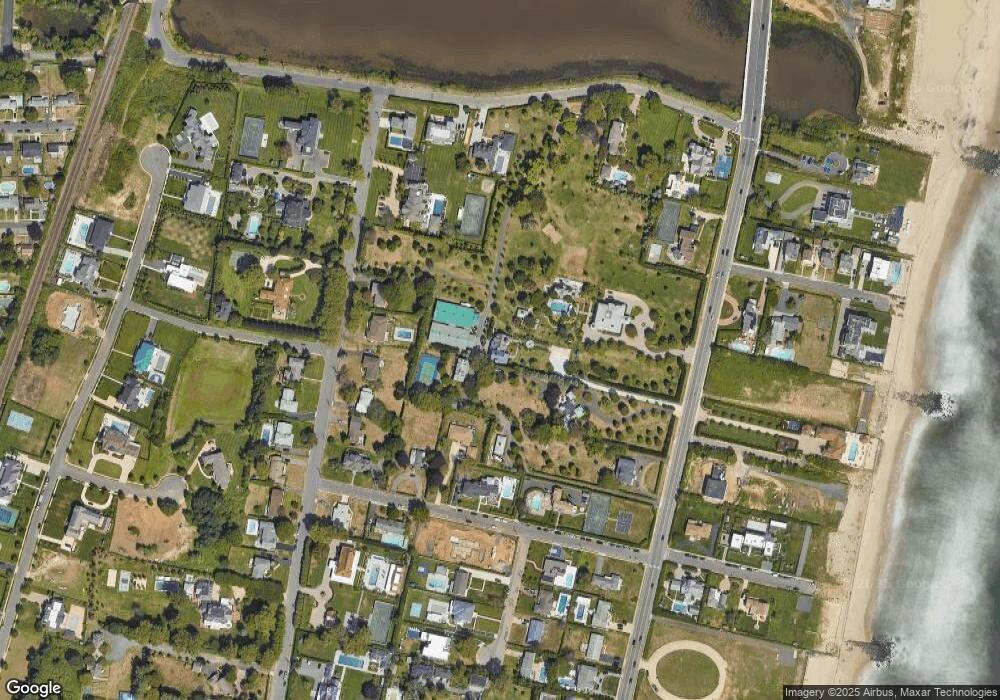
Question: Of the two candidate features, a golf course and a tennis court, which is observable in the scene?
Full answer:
Of the two, only a tennis court appears.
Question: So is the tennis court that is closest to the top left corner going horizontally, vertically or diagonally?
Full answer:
What the image shows is the tennis court that is closest to the top left corner lying vertically.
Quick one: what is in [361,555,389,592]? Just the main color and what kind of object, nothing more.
white swimming pool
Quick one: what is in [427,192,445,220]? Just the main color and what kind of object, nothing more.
white swimming pool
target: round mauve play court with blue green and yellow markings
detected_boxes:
[823,151,849,176]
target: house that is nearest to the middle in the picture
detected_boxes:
[485,329,510,363]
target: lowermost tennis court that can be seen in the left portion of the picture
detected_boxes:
[370,602,395,641]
